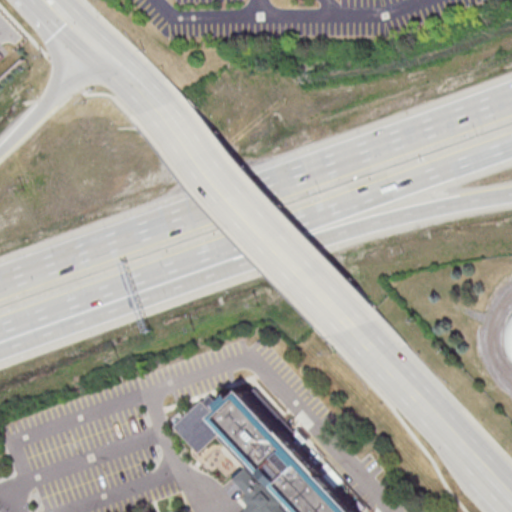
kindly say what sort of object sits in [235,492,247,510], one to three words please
vehicle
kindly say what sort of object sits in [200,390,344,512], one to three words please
building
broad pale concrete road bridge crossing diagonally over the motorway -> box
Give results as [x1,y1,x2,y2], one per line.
[132,99,383,338]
